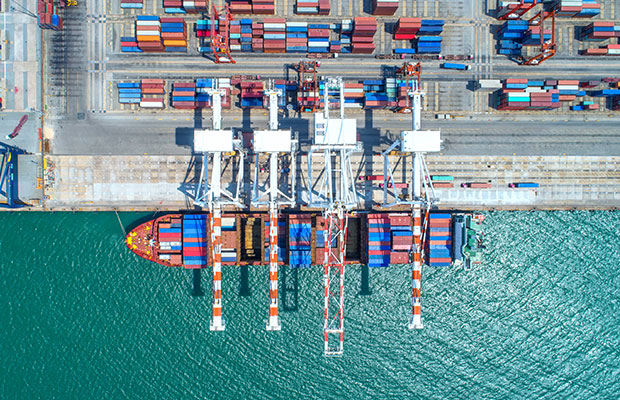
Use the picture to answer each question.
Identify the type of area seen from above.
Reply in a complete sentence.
This image shows a port.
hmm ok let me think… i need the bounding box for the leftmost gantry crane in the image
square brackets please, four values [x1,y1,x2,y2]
[0,141,41,209]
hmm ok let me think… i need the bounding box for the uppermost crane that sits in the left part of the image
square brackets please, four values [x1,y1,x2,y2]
[210,0,237,60]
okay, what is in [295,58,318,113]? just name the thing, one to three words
crane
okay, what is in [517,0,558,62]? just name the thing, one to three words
crane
